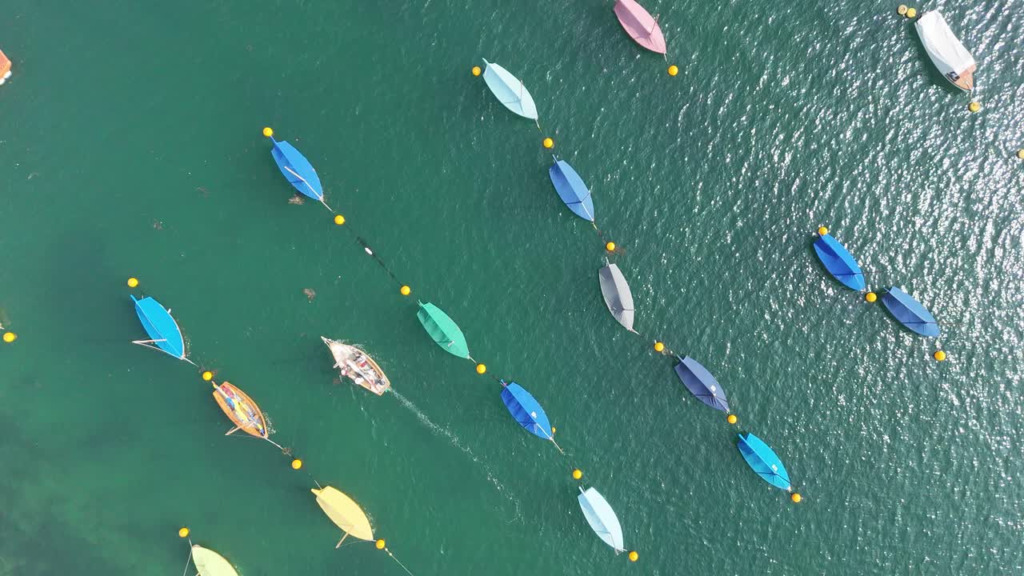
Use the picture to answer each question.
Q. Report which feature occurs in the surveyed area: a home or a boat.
boat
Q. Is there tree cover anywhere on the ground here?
No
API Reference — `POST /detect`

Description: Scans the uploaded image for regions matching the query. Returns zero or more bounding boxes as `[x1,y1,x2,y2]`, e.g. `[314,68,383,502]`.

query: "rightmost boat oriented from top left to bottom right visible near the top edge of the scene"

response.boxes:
[911,9,980,102]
